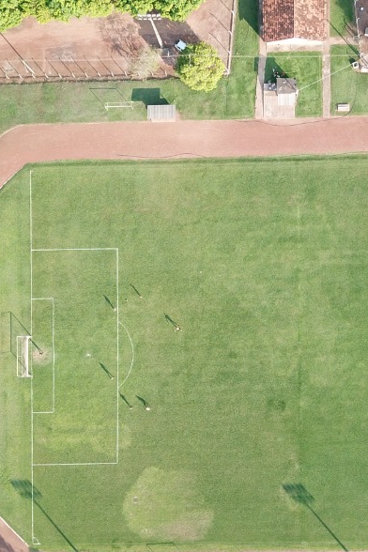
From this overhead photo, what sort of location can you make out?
sports ground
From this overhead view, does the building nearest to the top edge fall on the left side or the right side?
right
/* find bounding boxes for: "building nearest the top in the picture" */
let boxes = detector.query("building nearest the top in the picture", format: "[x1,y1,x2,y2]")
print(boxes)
[263,0,326,48]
